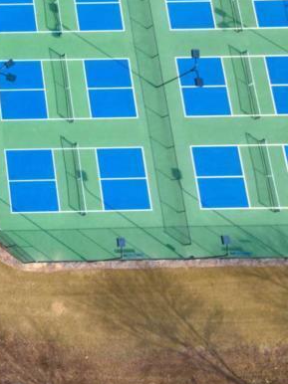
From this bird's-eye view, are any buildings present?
No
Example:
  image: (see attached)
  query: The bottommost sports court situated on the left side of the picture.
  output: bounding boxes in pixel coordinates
[6,147,153,212]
